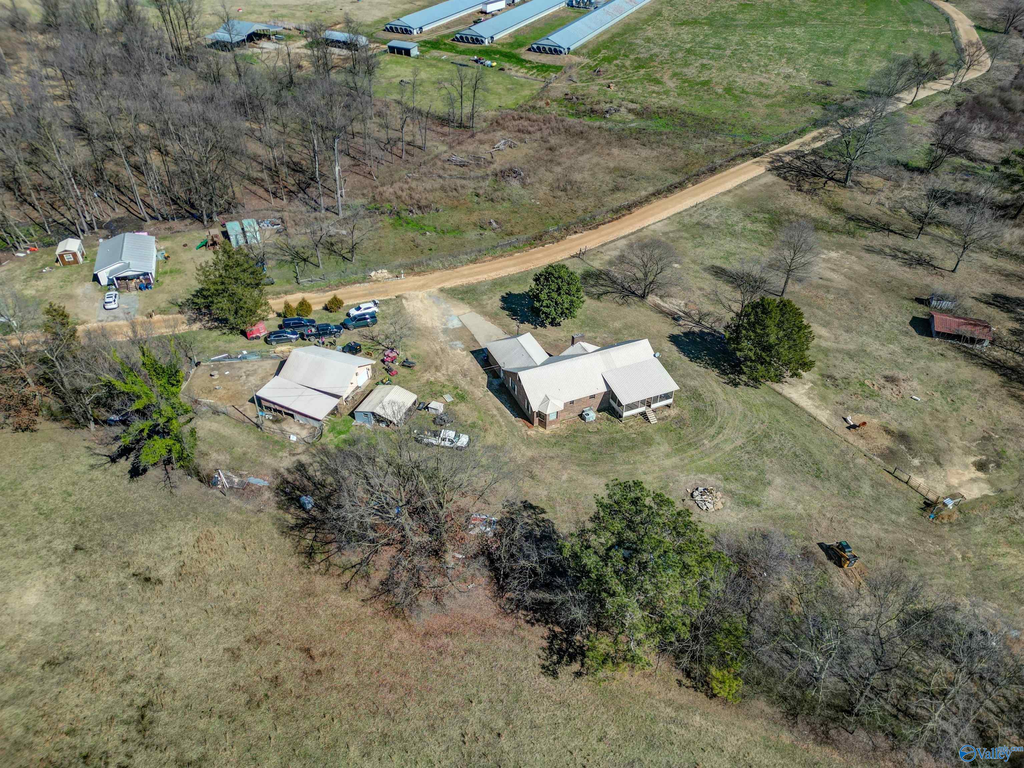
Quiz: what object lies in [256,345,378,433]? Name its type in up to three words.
building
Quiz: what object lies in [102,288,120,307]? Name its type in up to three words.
car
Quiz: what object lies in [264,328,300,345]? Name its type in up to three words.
car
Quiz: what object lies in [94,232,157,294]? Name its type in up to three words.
house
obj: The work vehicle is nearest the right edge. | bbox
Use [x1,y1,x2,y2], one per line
[828,547,863,573]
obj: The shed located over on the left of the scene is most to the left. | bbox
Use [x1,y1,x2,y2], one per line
[55,239,84,266]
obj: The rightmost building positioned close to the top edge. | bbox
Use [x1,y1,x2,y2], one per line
[528,0,647,53]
